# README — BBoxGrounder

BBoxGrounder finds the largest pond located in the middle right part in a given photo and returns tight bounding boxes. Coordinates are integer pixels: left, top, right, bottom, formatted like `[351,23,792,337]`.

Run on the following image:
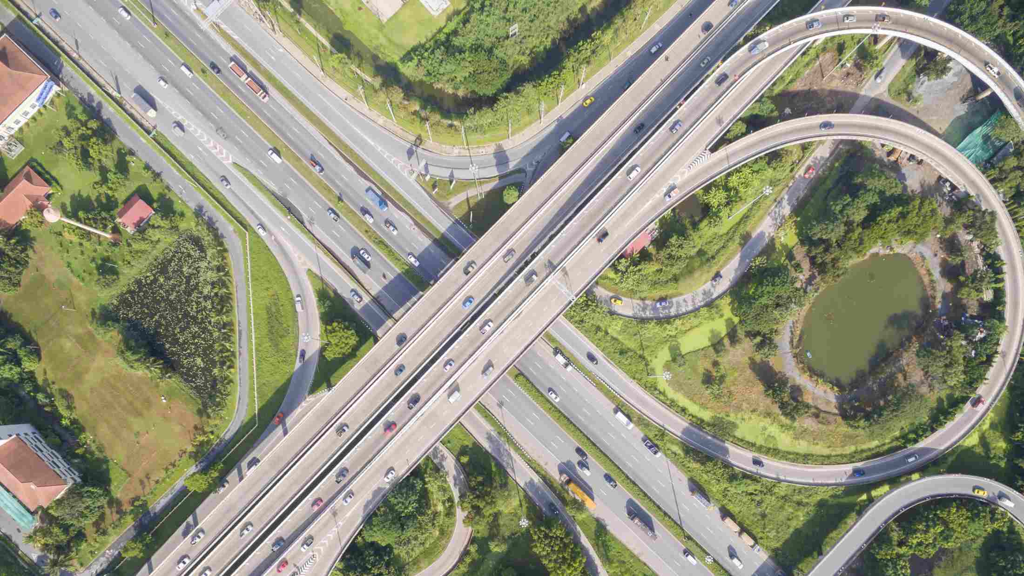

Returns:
[801,252,926,385]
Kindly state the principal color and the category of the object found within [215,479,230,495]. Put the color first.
gray car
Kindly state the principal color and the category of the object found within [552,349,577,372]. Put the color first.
white truck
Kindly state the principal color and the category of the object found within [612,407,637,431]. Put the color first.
white truck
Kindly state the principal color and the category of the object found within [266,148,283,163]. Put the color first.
white vehicle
